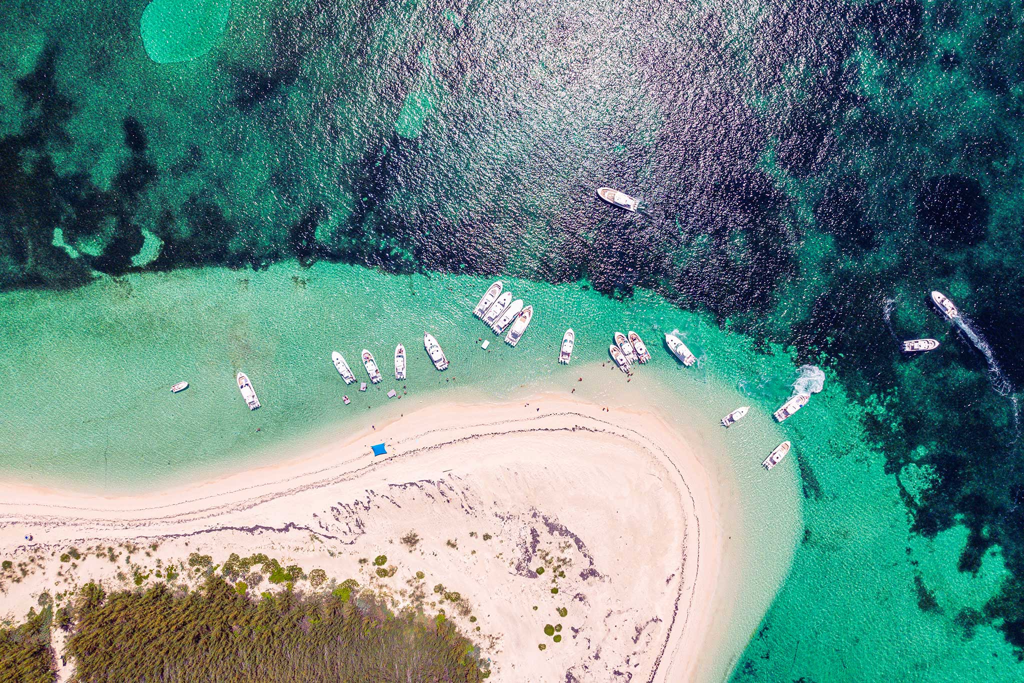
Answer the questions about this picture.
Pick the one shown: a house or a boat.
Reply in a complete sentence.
Of the two, only a boat appears.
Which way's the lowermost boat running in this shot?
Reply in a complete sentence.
The lowermost boat has been laid out diagonally relative to the frame.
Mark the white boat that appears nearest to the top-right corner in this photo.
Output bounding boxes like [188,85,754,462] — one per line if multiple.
[931,291,958,321]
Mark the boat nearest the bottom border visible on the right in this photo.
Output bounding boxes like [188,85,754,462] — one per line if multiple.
[760,441,790,471]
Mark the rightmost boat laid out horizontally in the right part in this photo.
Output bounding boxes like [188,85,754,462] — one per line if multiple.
[899,339,939,352]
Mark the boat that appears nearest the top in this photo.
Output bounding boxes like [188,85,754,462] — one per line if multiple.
[597,188,641,214]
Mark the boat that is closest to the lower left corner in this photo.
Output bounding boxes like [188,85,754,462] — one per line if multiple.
[172,381,188,393]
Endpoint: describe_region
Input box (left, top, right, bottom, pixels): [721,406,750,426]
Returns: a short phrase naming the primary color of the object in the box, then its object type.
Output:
white boat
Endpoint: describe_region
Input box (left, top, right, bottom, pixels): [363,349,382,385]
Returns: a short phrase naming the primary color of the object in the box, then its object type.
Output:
white boat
